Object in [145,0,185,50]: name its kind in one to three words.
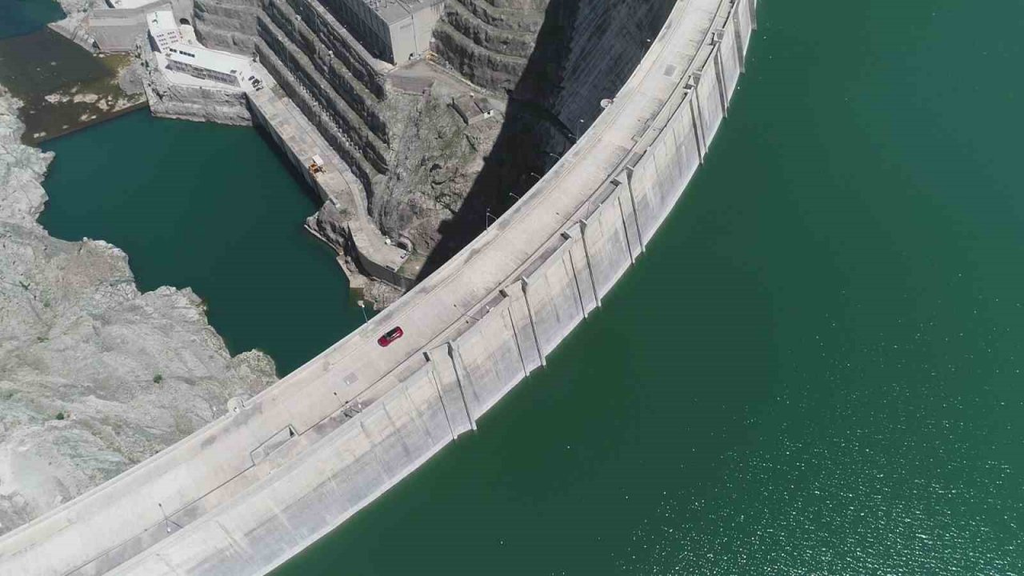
building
